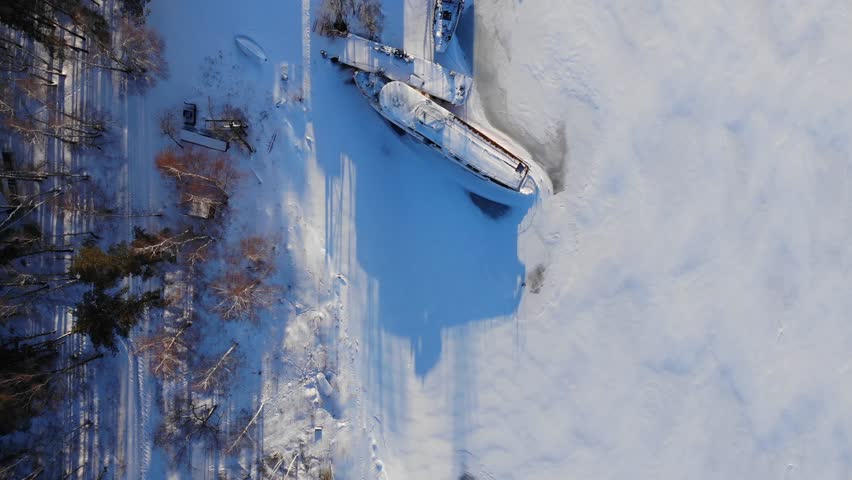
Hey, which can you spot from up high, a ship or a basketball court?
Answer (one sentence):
I can see a ship in this picture.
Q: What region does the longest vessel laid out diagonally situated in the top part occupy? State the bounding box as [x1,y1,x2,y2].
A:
[355,73,535,197]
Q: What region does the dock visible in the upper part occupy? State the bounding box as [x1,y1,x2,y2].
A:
[337,34,471,106]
